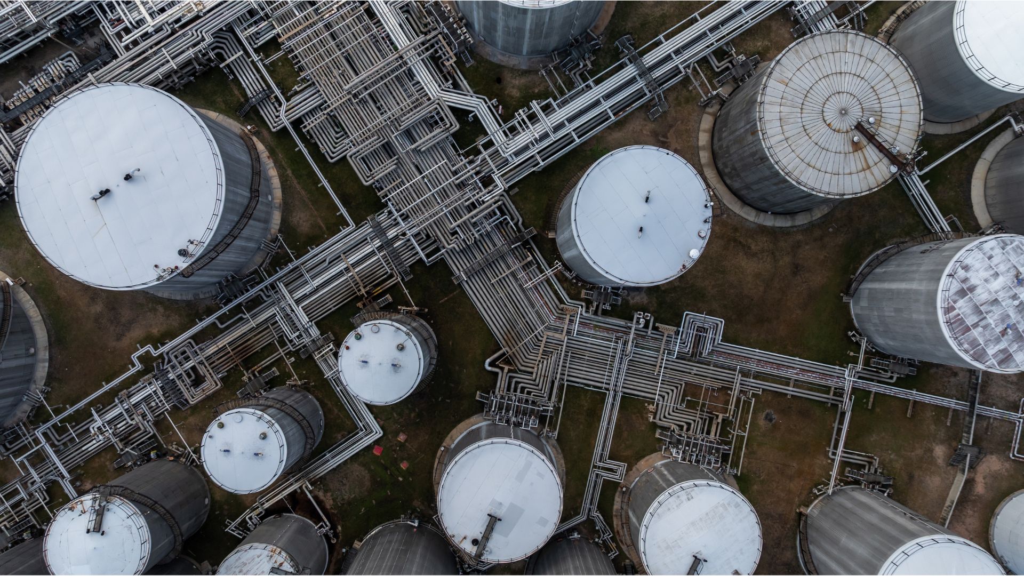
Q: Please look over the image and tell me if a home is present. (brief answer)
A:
No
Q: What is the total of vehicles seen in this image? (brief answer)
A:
none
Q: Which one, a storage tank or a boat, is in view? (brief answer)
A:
storage tank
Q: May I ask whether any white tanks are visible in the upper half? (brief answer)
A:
Yes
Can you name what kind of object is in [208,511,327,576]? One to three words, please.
storage tank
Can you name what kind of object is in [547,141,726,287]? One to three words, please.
storage tank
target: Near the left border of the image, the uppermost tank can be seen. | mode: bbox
[4,78,282,298]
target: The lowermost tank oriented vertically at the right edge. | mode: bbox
[988,488,1024,566]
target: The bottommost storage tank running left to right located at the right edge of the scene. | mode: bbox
[796,483,1017,576]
